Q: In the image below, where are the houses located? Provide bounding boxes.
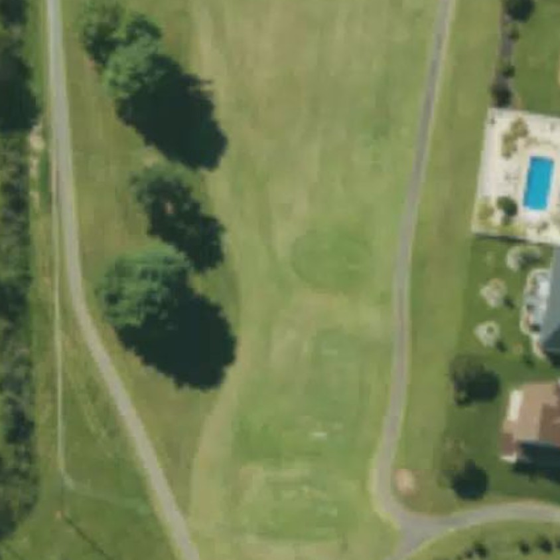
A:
[543,248,560,356]
[514,381,560,451]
